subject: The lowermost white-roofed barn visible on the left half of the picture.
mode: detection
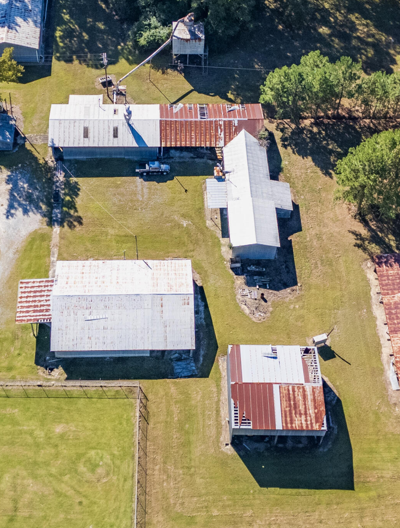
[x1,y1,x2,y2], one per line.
[16,260,194,357]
